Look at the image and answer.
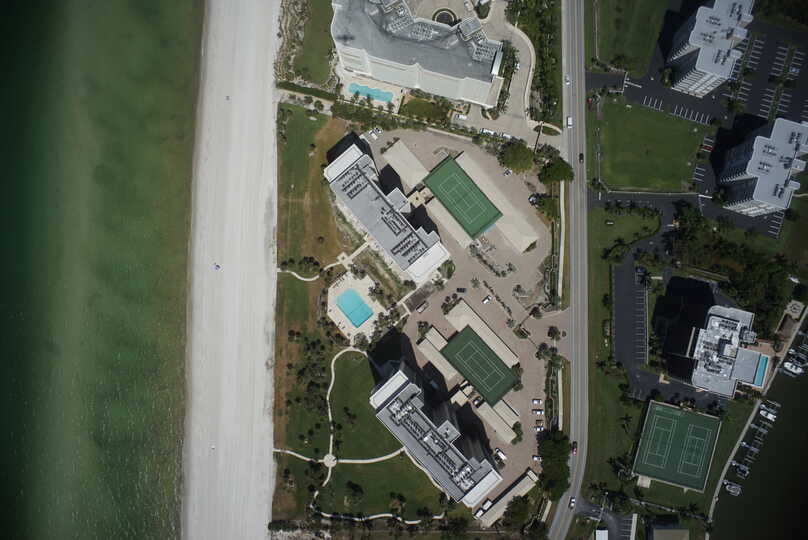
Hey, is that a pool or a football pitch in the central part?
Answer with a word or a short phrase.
pool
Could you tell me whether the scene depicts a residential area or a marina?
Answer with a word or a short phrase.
marina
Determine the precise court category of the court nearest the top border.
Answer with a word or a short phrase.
tennis court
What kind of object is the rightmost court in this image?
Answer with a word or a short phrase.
tennis court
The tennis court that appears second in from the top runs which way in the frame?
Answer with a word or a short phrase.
at an angle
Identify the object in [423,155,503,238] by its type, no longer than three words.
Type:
tennis court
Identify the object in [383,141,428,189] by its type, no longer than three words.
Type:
building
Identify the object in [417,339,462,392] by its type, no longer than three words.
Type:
building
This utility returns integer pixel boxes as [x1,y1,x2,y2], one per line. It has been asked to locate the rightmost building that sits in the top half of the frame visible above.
[720,118,808,218]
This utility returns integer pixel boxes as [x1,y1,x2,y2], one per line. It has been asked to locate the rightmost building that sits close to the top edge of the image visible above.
[666,0,754,96]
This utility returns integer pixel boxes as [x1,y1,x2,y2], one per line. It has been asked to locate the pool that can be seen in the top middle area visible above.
[344,72,416,114]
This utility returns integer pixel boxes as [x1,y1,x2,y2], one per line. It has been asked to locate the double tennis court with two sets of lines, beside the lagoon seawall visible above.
[631,399,723,493]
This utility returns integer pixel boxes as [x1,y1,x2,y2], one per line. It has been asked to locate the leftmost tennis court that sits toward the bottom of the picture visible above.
[441,325,519,407]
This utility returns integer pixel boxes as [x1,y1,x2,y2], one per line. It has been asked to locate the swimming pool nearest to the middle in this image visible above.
[327,272,387,345]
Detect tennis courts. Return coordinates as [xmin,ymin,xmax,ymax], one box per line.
[423,155,503,238]
[441,325,519,407]
[631,399,723,493]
